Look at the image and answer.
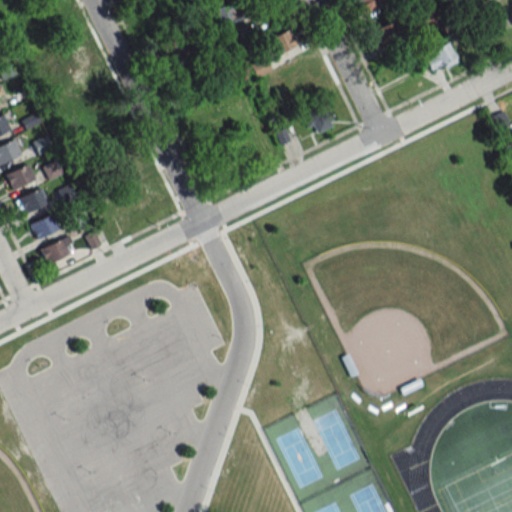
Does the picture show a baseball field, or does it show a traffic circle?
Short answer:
baseball field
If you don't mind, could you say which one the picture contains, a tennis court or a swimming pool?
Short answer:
tennis court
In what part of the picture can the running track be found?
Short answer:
bottom right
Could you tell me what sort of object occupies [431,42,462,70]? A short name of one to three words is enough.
house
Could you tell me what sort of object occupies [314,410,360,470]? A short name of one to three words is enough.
tennis court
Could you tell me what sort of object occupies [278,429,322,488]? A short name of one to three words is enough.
tennis court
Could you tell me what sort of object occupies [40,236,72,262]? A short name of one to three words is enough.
house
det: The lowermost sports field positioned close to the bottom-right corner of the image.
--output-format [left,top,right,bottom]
[432,402,512,512]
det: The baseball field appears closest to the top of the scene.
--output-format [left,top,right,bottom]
[304,241,508,396]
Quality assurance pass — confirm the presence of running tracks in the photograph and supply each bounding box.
[391,378,512,512]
